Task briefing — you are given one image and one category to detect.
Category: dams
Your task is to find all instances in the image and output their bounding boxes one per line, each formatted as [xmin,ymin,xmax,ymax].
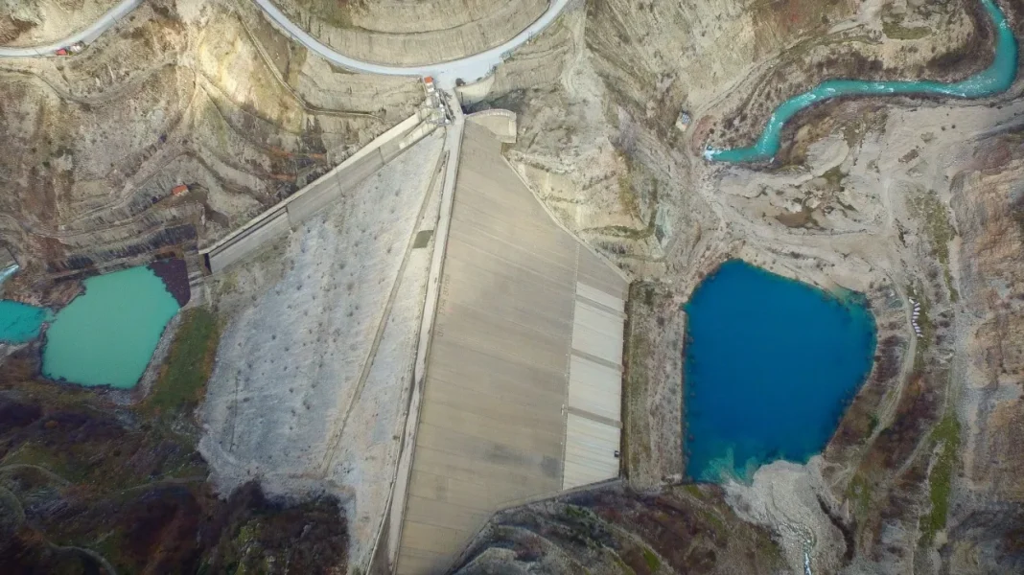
[201,107,631,575]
